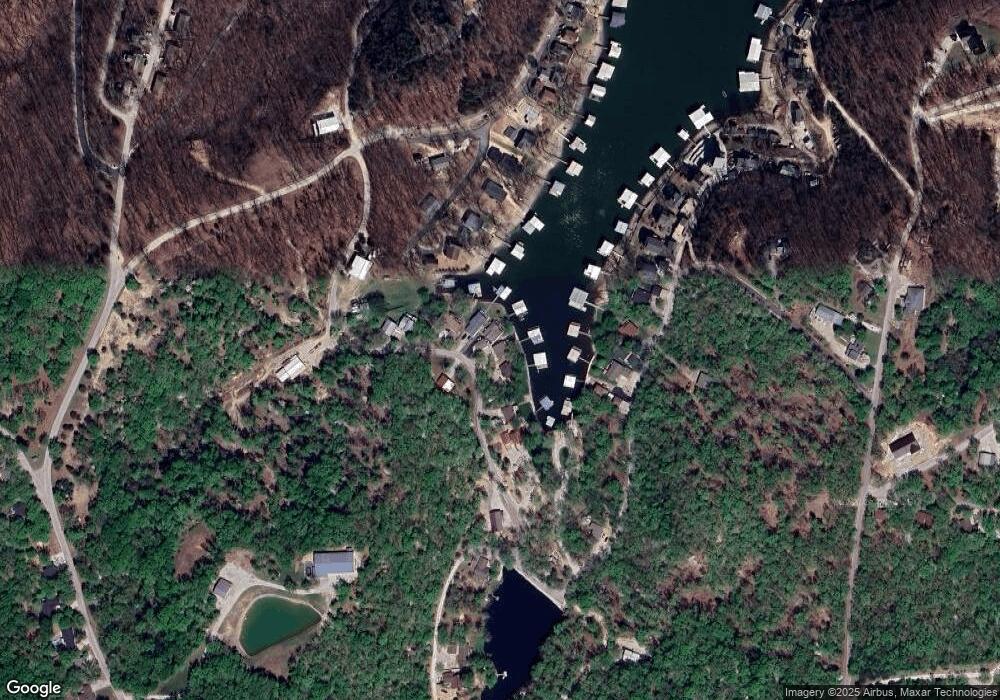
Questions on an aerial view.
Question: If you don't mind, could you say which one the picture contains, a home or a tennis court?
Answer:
home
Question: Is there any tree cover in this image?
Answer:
Yes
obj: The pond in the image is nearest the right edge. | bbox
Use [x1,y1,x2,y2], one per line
[482,568,562,700]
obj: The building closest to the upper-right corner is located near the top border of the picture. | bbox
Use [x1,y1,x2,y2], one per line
[957,21,988,55]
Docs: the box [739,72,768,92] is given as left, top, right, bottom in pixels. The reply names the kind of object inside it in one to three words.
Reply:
pier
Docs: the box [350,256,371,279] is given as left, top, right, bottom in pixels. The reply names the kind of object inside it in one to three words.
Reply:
barn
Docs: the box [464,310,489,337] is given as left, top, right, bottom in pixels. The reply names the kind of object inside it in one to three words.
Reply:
house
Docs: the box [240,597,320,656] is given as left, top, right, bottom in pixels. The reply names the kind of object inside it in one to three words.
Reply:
pond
